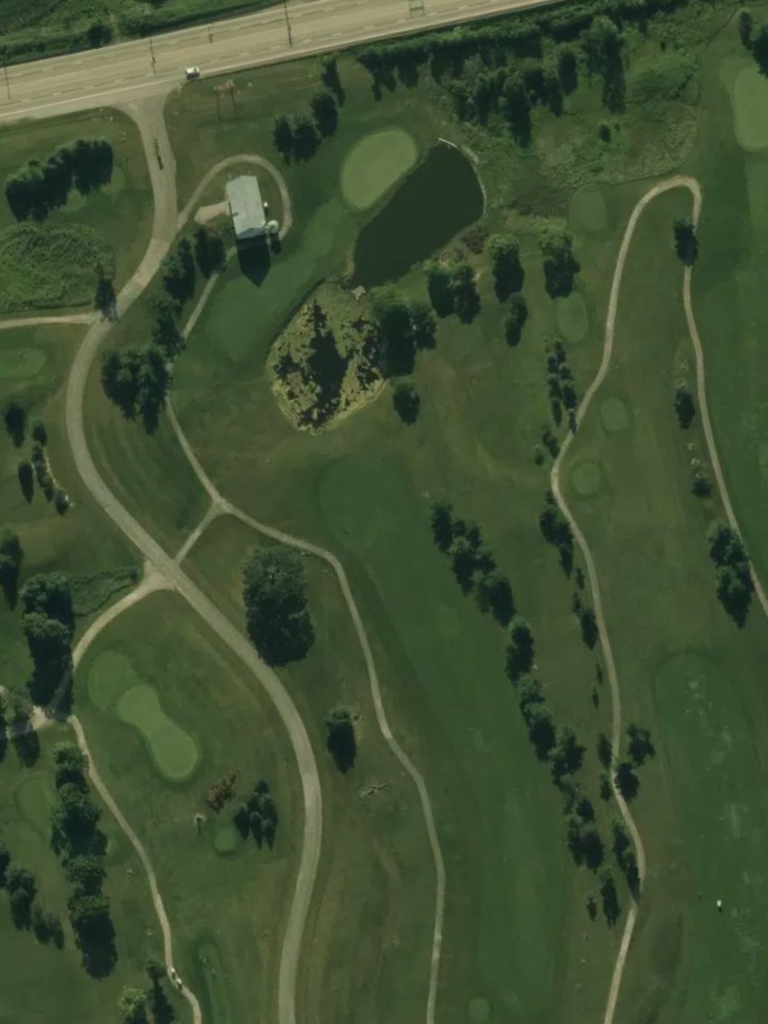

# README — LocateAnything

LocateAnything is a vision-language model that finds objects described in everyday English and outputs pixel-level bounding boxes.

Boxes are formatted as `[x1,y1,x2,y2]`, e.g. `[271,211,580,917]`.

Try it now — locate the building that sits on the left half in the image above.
[226,177,265,237]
